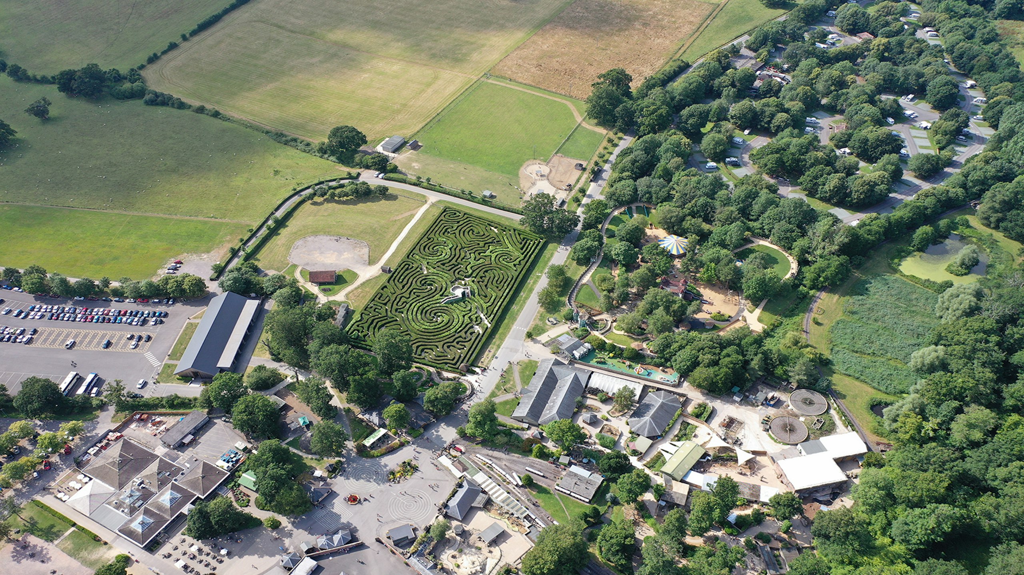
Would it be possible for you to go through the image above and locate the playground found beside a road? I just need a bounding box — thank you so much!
[575,204,799,344]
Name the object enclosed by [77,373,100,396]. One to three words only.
bus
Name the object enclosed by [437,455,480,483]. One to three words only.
building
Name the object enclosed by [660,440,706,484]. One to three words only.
barn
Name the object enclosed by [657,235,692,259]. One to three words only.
tent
